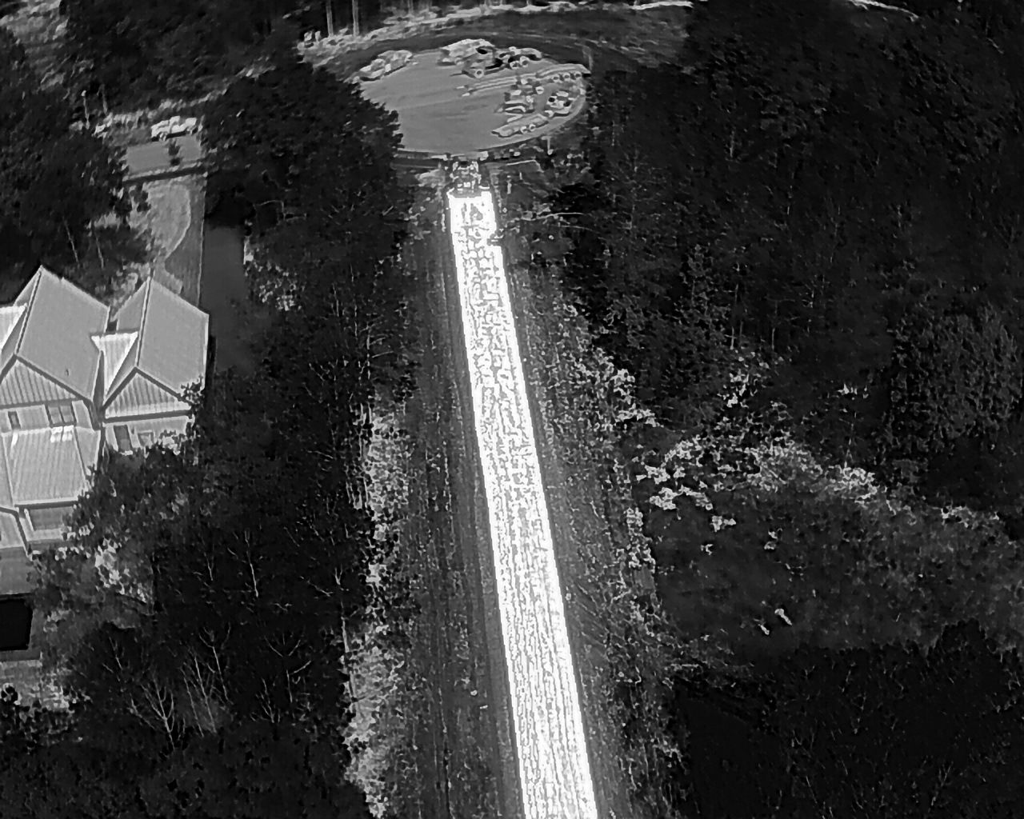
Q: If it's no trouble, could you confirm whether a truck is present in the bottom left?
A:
No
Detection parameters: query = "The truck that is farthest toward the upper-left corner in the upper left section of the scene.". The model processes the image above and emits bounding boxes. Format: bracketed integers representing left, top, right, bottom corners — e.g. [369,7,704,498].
[149,116,201,143]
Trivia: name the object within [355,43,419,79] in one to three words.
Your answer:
truck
